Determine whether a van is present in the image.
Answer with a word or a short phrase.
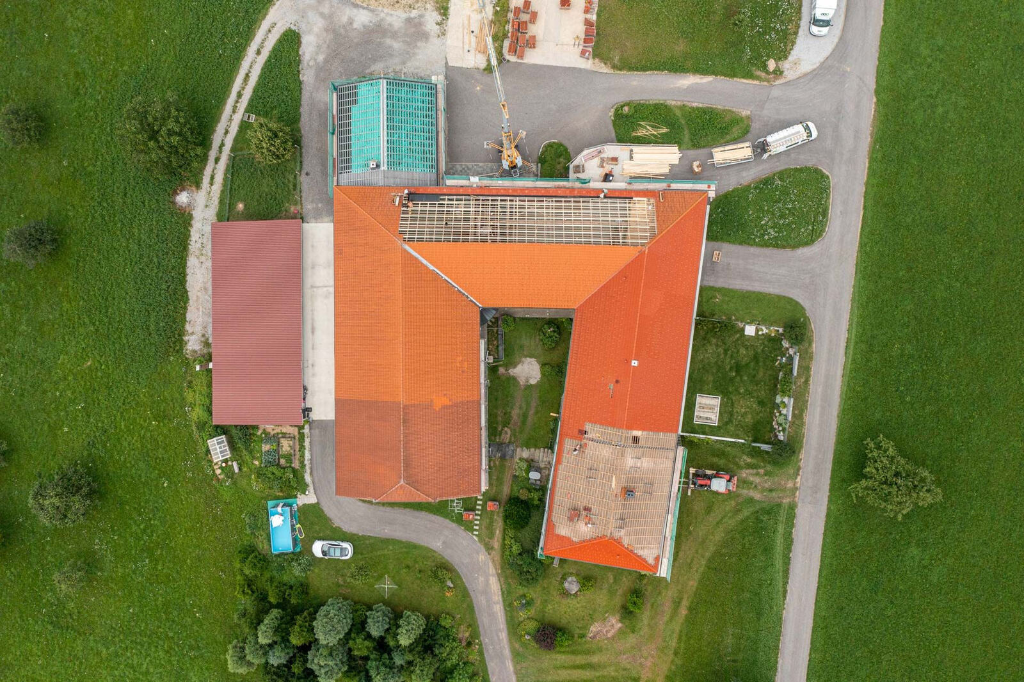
Yes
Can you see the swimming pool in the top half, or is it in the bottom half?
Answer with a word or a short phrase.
bottom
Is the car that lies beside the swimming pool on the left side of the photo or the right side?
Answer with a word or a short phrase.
left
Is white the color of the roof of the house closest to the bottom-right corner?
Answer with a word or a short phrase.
No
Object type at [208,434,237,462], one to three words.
greenhouse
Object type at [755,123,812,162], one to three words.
van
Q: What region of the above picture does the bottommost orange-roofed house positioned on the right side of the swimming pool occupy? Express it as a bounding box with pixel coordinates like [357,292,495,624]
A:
[332,184,712,575]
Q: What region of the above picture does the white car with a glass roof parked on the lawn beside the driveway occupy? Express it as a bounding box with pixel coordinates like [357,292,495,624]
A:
[313,540,353,561]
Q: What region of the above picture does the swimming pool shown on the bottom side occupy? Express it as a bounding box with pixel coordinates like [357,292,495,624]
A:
[269,503,296,552]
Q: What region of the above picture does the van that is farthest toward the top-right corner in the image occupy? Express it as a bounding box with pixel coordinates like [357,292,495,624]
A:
[809,0,839,40]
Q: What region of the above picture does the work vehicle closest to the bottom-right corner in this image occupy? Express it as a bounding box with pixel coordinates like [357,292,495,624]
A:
[695,471,736,493]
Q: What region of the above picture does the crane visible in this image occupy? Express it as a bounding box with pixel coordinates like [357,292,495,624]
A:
[478,0,537,178]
